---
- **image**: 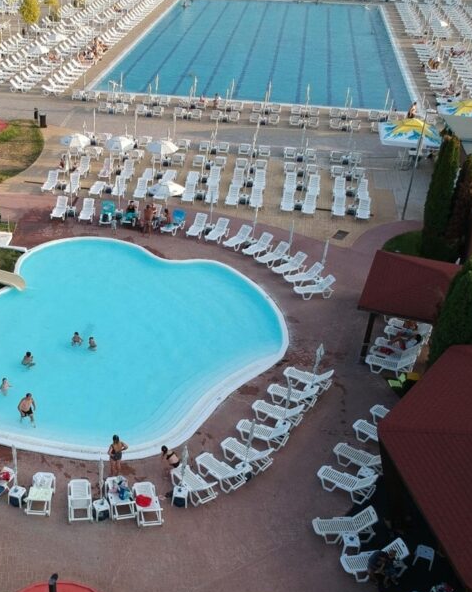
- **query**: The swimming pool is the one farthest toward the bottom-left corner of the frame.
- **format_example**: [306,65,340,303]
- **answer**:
[0,240,284,442]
